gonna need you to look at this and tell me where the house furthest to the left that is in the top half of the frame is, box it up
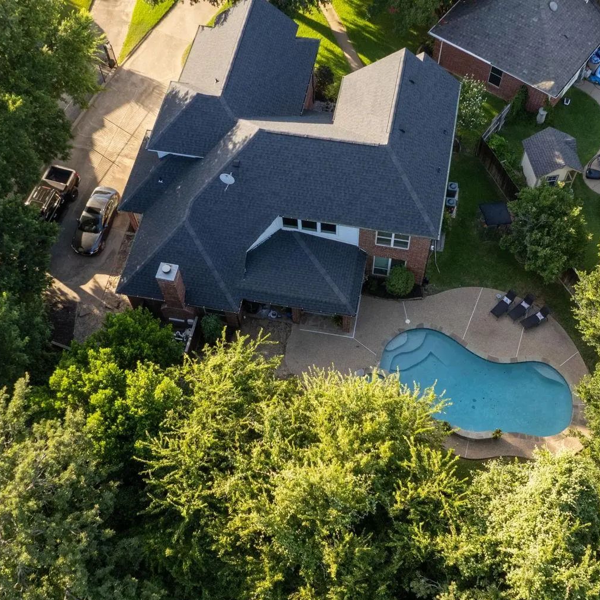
[117,0,460,334]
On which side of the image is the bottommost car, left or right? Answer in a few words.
left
